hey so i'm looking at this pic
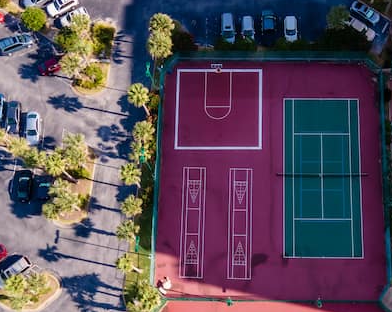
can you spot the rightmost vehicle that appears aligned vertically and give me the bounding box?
[283,14,299,45]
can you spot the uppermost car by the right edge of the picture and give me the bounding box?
[348,0,379,25]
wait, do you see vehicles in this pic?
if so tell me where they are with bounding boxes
[344,15,378,44]
[0,93,6,123]
[0,35,34,55]
[25,112,42,143]
[348,0,379,25]
[47,0,79,18]
[220,11,236,44]
[4,101,23,133]
[283,14,299,45]
[36,56,65,79]
[0,244,8,260]
[24,0,53,8]
[261,8,277,41]
[60,6,91,30]
[35,172,54,205]
[240,14,256,44]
